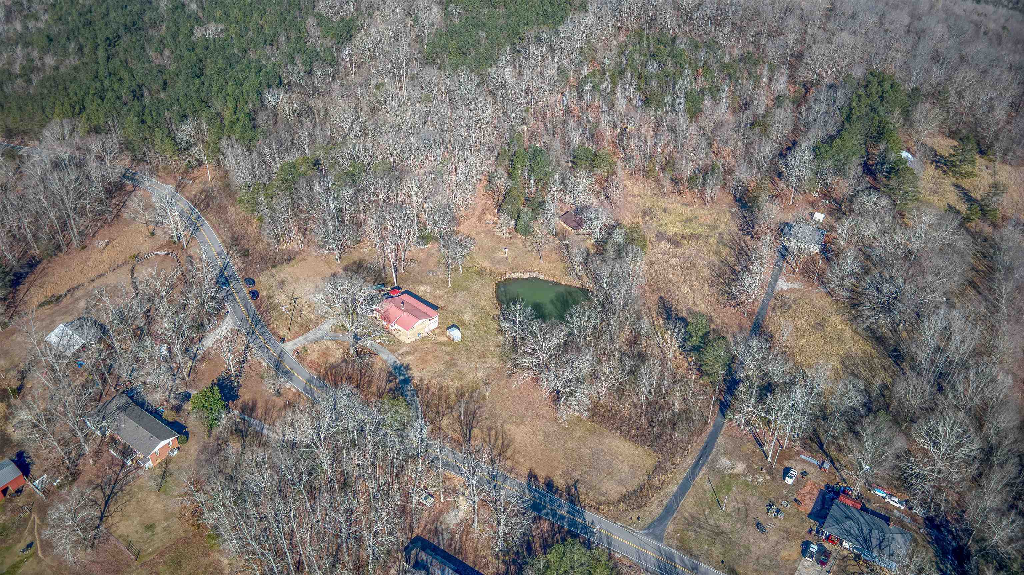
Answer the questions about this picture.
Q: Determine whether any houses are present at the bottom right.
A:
Yes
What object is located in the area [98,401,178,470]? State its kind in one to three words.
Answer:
house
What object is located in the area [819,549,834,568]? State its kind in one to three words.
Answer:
car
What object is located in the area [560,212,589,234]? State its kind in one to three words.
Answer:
building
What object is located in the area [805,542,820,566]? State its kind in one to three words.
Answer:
vehicle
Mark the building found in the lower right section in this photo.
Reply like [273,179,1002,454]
[825,491,919,575]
